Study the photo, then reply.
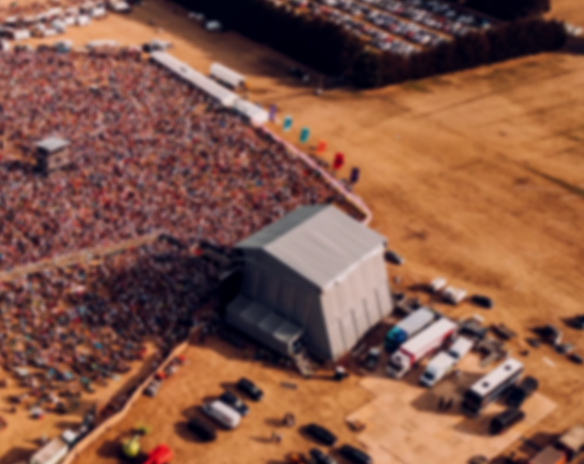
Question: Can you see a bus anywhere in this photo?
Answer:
Yes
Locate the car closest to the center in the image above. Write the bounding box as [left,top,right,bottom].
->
[388,249,405,267]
